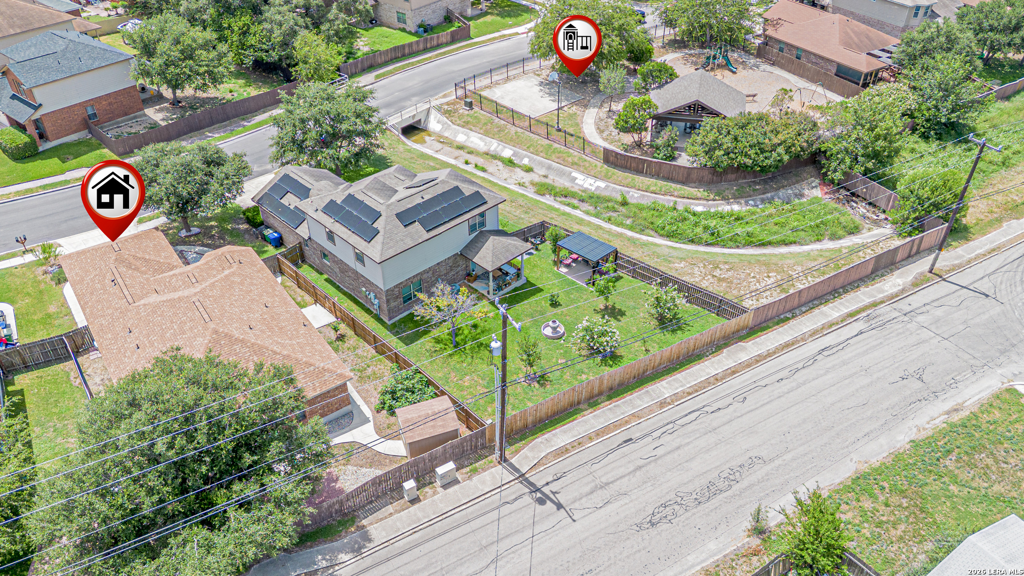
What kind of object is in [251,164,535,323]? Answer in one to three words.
house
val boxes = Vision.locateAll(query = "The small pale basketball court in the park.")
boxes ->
[480,73,585,118]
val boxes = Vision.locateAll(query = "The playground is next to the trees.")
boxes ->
[667,52,839,126]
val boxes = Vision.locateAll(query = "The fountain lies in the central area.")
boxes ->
[542,318,564,337]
